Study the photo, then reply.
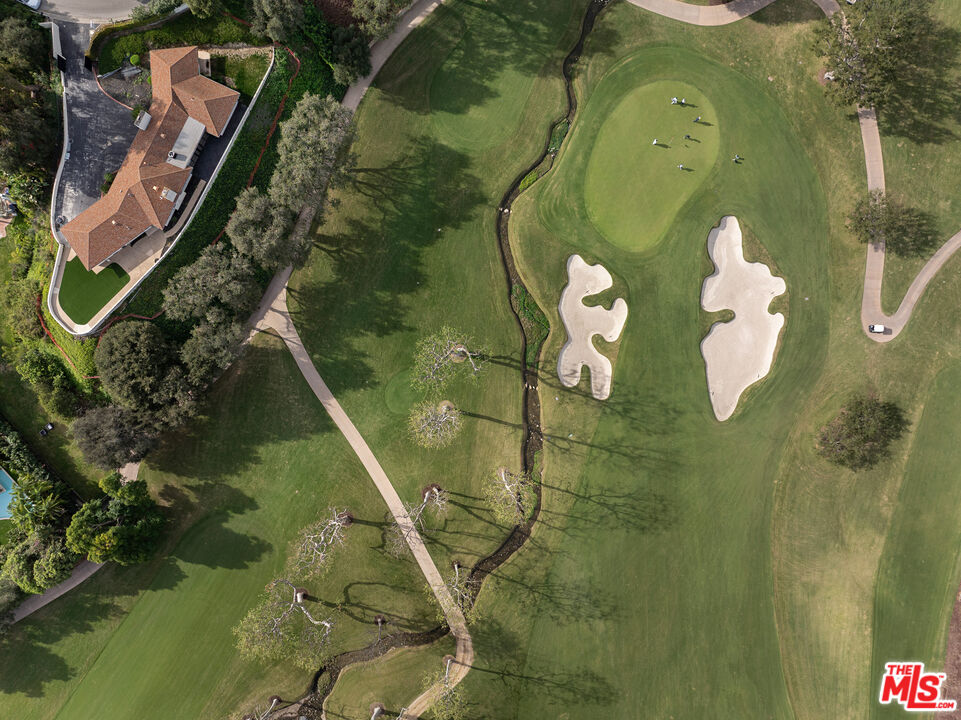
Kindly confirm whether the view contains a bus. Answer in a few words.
No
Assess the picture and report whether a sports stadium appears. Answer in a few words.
No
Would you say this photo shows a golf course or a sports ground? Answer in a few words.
golf course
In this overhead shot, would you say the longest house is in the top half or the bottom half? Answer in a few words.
top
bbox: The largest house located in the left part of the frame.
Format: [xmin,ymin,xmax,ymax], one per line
[61,46,241,271]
